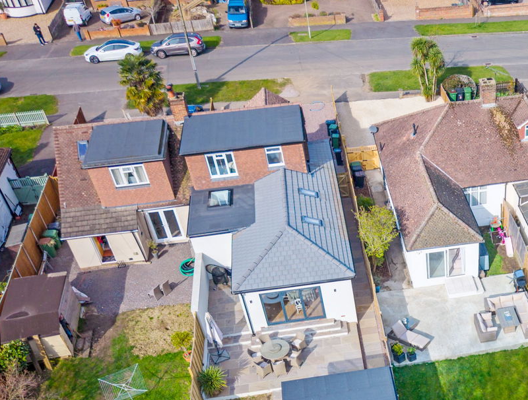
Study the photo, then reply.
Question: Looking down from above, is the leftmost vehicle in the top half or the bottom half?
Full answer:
The top half of the photo is where the leftmost vehicle is.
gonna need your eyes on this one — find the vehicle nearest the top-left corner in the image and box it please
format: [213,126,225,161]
[60,0,88,26]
